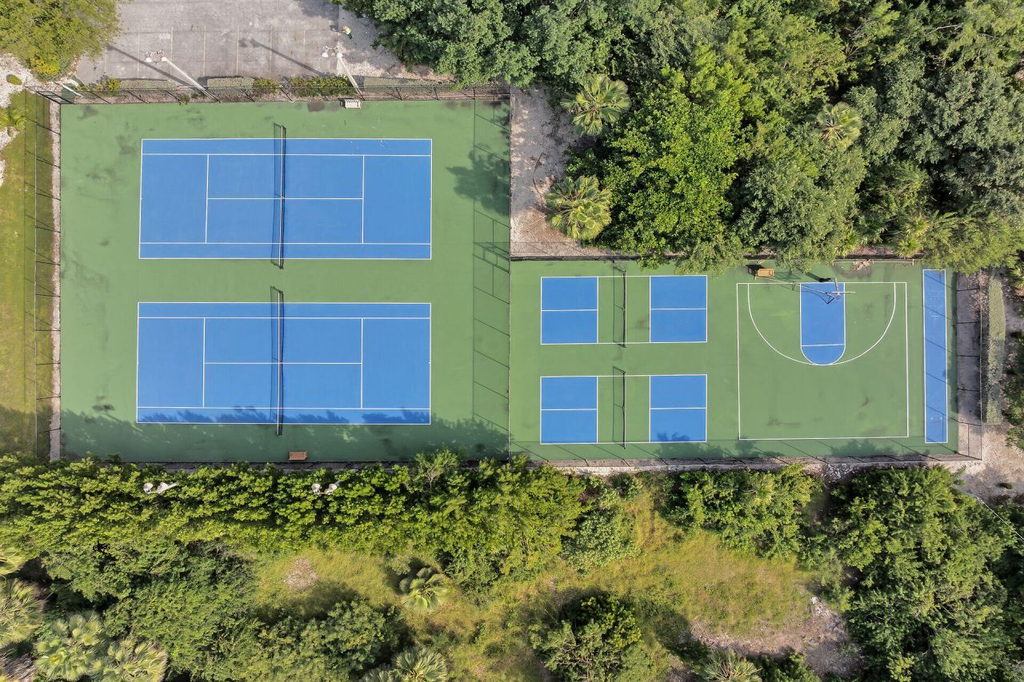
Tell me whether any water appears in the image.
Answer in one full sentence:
No, no water is visible.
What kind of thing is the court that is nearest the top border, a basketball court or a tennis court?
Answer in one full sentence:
It looks like the court that is nearest the top border is a tennis court.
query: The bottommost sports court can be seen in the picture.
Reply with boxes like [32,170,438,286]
[540,374,707,445]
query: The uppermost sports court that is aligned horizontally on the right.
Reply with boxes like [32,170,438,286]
[541,275,708,345]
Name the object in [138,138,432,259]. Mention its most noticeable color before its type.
blue tennis court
